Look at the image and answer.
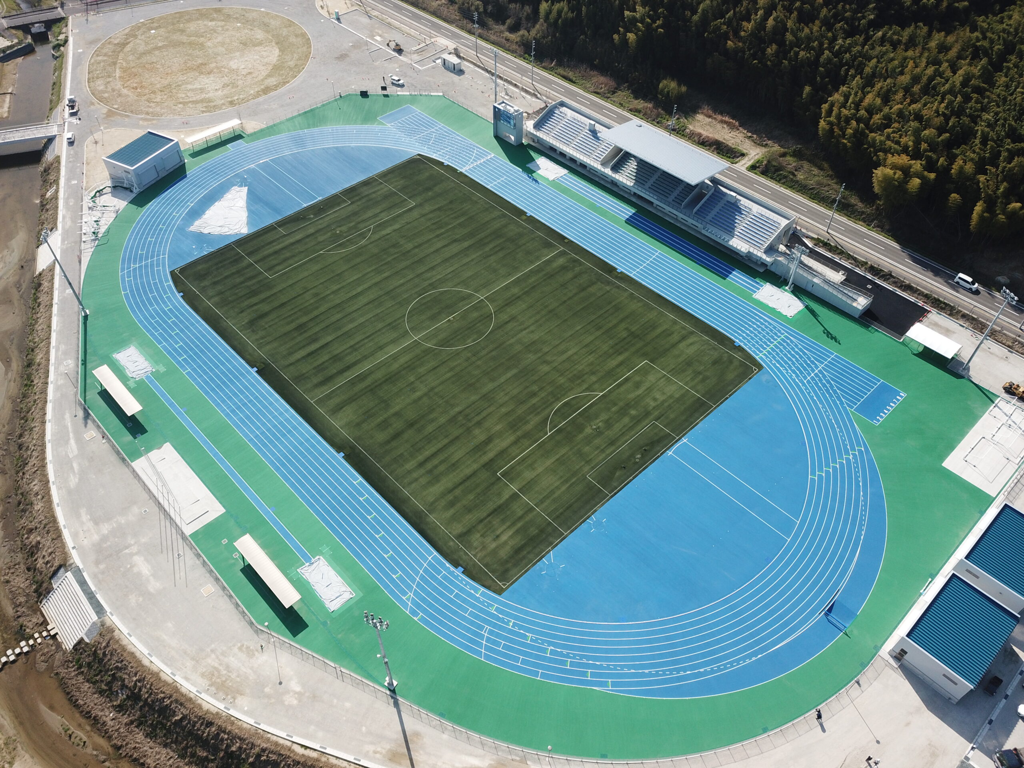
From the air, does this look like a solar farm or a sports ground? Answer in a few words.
sports ground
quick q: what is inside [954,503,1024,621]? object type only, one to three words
shed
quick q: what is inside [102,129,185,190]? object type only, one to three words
shed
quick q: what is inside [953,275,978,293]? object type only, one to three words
vehicle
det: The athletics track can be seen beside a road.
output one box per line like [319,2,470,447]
[118,125,865,686]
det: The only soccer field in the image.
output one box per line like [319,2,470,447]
[169,153,763,595]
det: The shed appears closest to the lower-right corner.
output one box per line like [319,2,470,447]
[888,569,1021,703]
